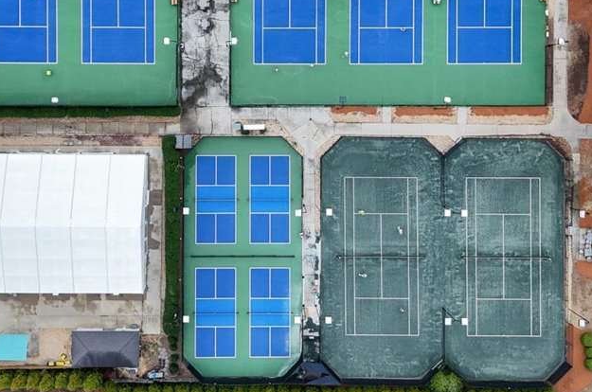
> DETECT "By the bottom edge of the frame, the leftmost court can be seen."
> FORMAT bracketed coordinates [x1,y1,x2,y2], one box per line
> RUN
[184,257,242,379]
